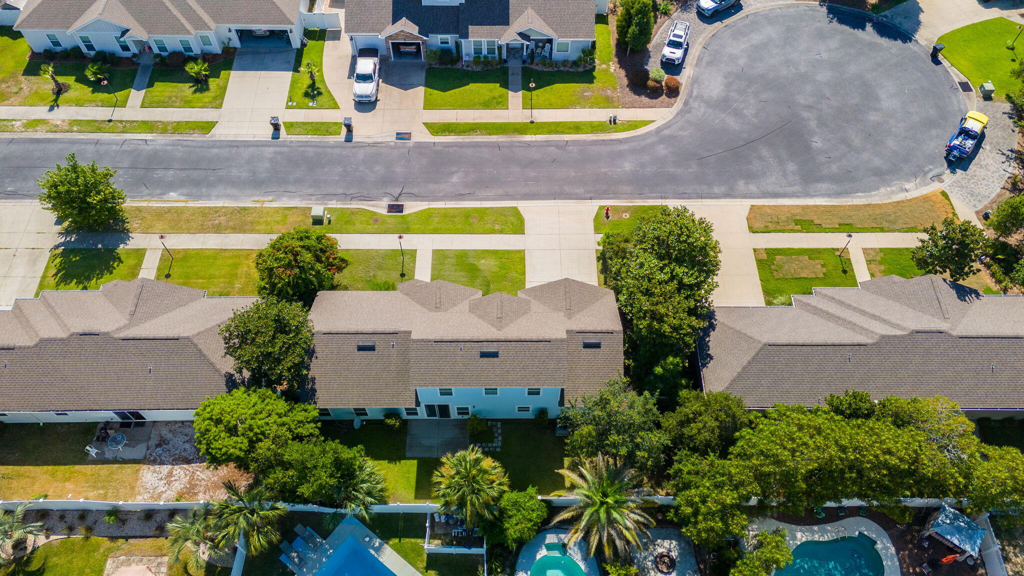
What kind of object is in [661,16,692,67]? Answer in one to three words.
car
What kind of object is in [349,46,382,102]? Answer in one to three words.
truck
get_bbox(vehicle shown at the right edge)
[941,111,988,162]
